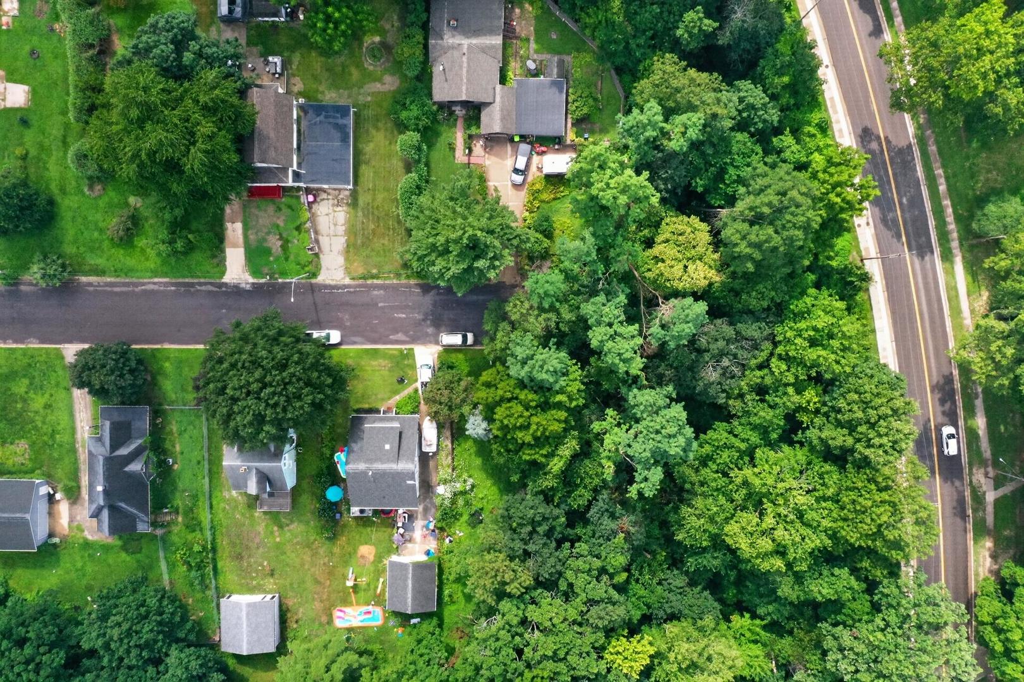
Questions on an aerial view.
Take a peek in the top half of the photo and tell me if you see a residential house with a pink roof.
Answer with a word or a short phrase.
No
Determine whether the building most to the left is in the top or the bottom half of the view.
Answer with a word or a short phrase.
bottom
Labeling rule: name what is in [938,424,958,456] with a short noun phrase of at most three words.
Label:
car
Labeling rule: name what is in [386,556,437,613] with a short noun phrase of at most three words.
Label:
building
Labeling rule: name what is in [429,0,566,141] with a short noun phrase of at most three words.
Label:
house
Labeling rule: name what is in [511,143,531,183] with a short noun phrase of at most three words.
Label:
vehicle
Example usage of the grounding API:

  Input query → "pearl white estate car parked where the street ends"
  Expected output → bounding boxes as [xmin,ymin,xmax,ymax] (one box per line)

[440,331,474,347]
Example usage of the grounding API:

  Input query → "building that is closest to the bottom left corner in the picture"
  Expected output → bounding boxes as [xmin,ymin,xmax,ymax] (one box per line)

[0,479,50,552]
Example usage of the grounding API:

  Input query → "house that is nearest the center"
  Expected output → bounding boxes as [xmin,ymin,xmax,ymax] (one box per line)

[346,414,421,510]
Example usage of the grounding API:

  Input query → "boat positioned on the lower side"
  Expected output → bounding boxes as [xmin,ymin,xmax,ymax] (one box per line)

[423,418,437,457]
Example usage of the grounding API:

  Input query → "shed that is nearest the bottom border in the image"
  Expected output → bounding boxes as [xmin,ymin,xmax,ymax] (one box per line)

[220,595,280,655]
